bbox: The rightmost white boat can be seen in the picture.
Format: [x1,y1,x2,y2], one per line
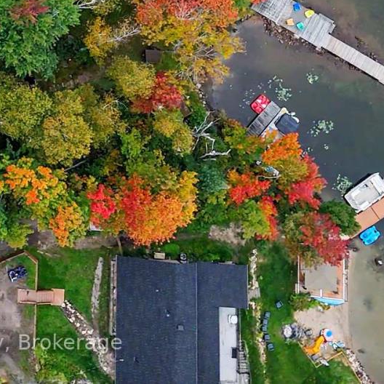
[344,173,384,211]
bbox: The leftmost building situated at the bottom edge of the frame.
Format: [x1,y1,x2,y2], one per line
[114,254,249,384]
